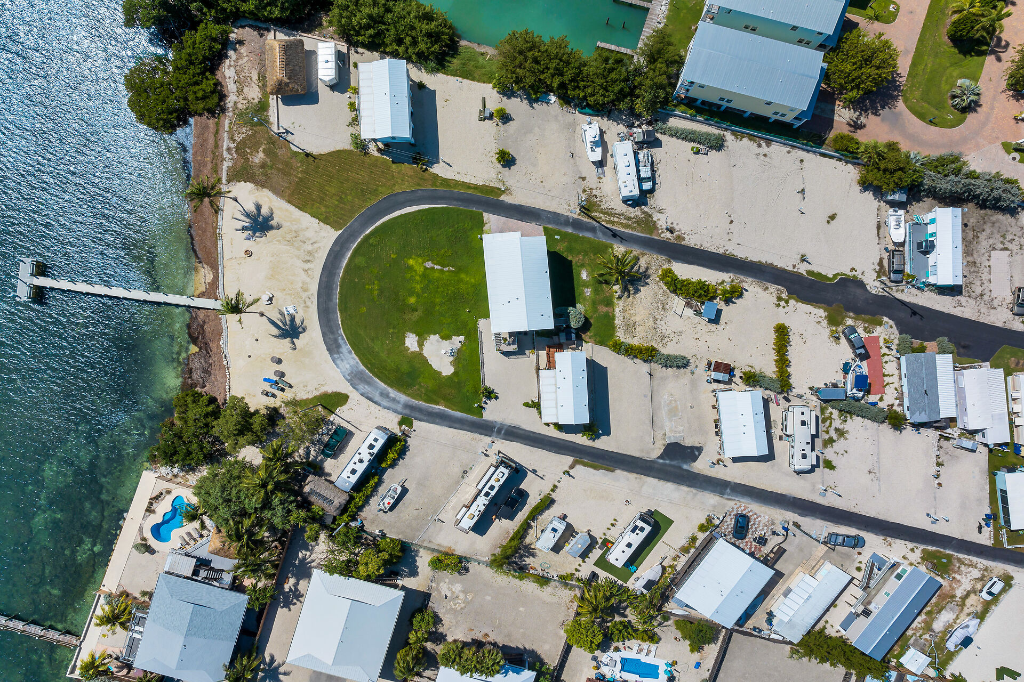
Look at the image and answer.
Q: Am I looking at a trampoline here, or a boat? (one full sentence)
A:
Of the two, only a boat appears.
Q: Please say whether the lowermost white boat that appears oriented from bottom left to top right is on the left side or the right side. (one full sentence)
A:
The lowermost white boat that appears oriented from bottom left to top right is on the right side of the image.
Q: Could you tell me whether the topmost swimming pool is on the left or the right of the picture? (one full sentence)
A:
You can find the topmost swimming pool on the left side of the picture.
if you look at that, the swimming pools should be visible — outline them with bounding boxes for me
[141,487,214,553]
[601,650,671,682]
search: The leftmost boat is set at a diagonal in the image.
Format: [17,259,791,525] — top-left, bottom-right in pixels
[375,485,400,516]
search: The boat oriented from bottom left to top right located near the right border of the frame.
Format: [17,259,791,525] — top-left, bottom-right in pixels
[938,620,980,655]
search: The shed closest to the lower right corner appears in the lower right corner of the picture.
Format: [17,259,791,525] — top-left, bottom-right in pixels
[892,639,930,675]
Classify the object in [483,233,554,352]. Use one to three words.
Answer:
house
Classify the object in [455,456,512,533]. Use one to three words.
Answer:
camper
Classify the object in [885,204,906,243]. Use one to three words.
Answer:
boat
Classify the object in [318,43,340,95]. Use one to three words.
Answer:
trailer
